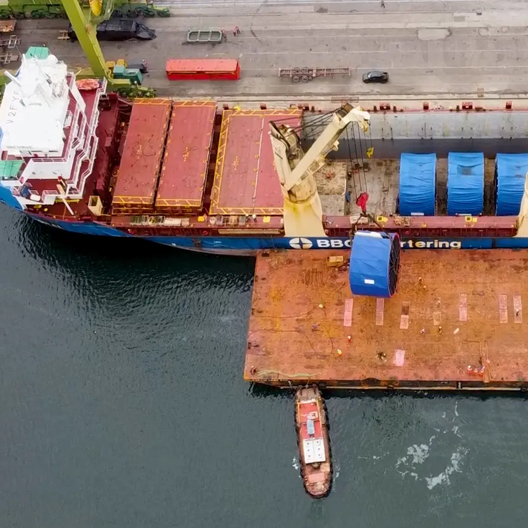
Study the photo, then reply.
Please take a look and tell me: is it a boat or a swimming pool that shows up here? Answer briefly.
boat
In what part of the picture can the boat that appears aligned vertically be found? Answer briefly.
bottom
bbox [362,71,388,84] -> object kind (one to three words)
vehicle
